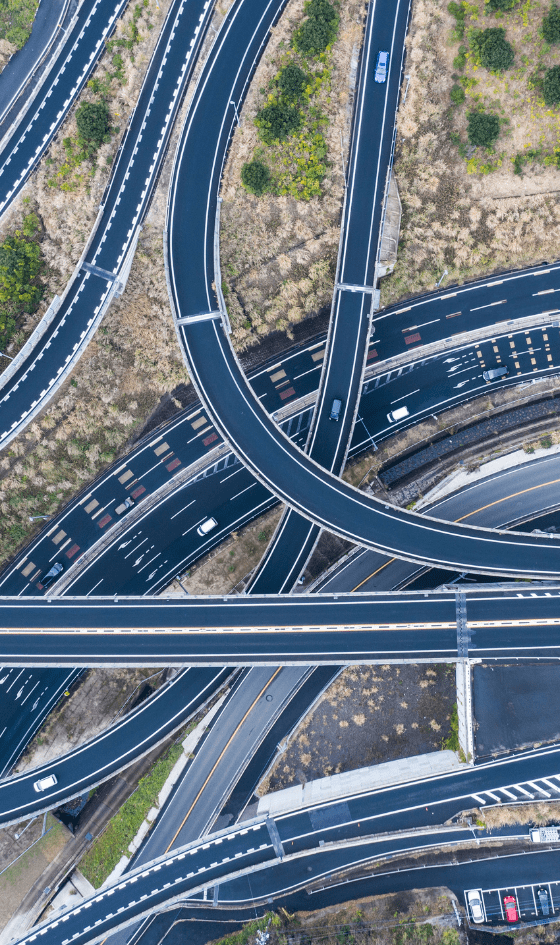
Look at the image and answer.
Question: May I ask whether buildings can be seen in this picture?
No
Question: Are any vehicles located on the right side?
Yes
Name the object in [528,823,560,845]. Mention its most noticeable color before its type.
white truck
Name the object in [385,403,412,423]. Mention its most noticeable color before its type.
white vehicle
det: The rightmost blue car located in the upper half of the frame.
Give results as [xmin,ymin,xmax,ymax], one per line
[482,365,509,383]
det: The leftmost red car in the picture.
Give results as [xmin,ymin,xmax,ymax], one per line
[503,895,518,923]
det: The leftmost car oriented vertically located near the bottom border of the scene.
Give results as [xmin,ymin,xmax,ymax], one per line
[467,888,483,924]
